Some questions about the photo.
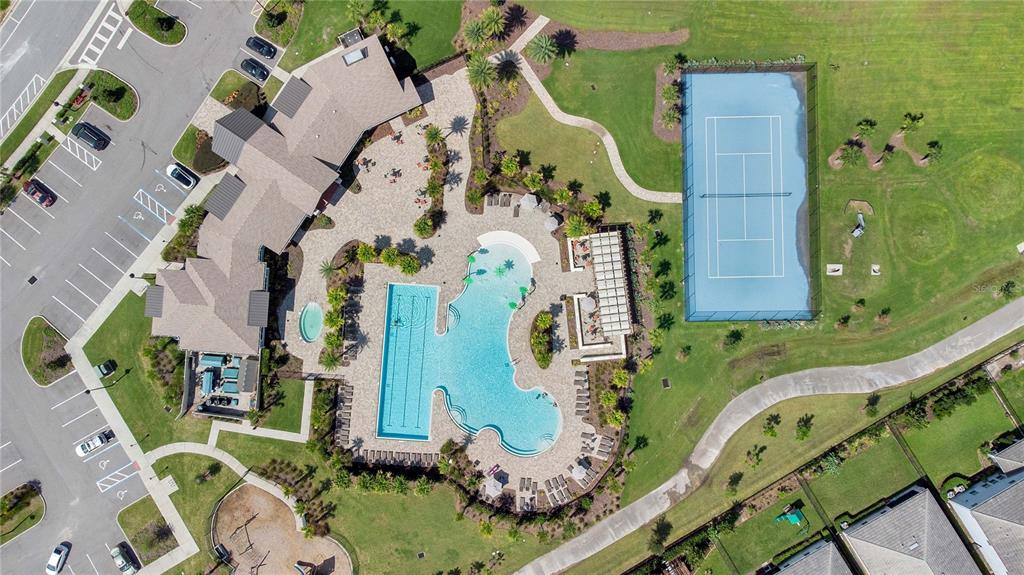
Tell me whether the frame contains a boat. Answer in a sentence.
No, the scene contains no boat.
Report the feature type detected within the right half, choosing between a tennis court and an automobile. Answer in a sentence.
It is a tennis court that can be seen within the right half.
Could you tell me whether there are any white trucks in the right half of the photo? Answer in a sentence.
No, there's no white truck to be seen in the right half of the photo.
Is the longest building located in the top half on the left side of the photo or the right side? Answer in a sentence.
It is on the left.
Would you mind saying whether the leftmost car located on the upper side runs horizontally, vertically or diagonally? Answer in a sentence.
The leftmost car located on the upper side has been laid out diagonally relative to the frame.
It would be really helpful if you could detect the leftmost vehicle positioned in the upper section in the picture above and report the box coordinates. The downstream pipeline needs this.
[23,180,56,206]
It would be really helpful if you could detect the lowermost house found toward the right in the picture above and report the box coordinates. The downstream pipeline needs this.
[772,540,849,575]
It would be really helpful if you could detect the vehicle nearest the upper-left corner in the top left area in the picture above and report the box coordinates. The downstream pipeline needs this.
[72,123,110,149]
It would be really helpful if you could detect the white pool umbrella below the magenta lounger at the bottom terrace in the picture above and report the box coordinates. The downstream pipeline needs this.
[484,477,503,496]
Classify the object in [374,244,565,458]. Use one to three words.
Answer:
swimming pool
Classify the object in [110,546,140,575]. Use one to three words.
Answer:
car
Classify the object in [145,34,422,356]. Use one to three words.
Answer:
building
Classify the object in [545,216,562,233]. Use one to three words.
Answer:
umbrella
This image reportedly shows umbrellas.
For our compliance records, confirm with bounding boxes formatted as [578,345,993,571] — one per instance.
[484,477,503,496]
[545,216,562,233]
[580,296,596,311]
[518,194,537,213]
[570,463,587,480]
